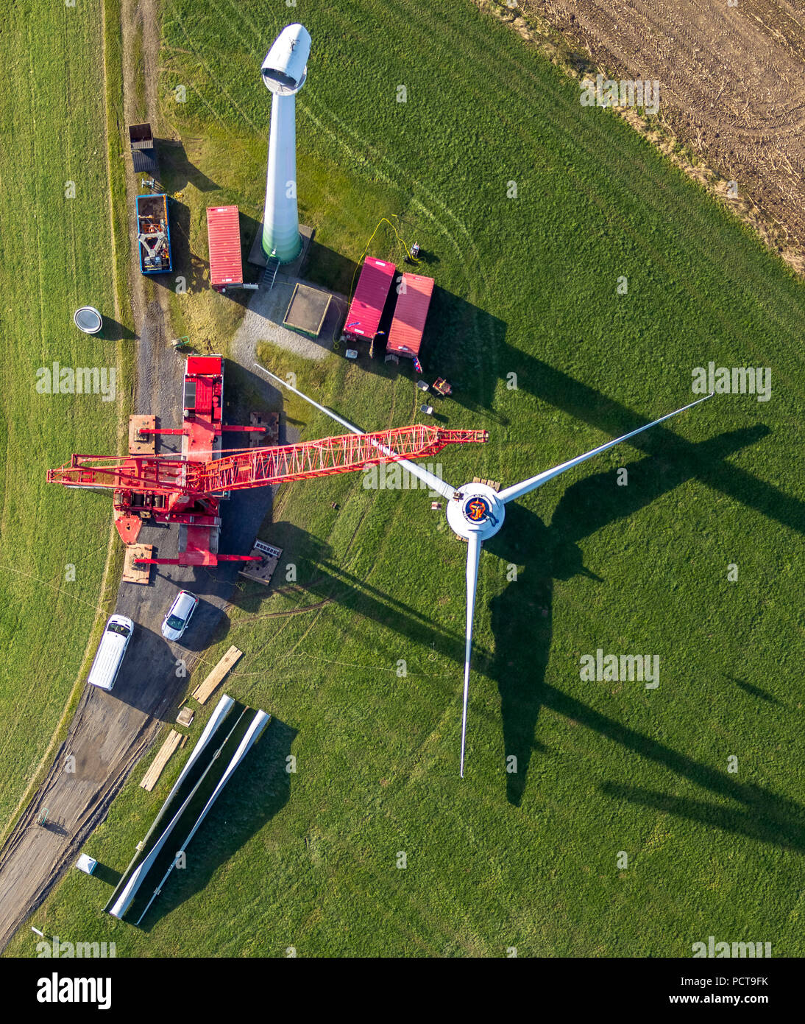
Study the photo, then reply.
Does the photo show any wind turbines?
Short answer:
Yes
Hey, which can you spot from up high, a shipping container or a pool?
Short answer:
shipping container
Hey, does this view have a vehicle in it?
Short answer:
Yes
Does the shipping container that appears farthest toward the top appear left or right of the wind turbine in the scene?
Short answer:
to the left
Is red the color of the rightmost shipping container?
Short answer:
Yes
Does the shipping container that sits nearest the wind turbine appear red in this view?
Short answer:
Yes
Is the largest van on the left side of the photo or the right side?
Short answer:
left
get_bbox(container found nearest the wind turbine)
[207,206,243,292]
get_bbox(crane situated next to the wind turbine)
[47,349,491,569]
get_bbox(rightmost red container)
[386,272,435,361]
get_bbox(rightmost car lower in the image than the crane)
[162,587,200,641]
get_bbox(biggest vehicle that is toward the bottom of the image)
[89,615,133,691]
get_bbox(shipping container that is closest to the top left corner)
[129,122,157,173]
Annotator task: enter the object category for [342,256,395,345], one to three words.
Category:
shipping container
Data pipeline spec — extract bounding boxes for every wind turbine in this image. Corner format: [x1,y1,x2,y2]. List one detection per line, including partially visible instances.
[258,21,311,267]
